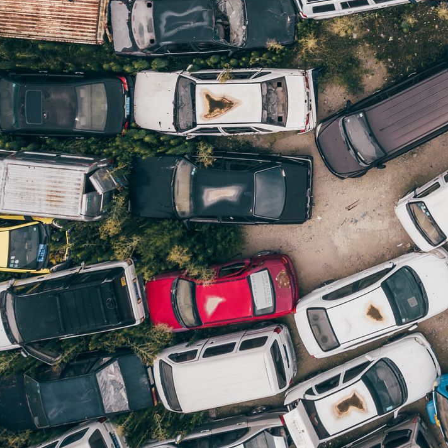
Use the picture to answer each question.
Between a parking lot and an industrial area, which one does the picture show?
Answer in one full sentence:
What you see here is a parking lot.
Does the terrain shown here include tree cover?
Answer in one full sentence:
No, no tree cover is visible.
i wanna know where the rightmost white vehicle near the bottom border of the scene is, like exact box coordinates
[271,332,443,448]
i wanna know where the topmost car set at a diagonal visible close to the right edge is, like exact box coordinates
[317,55,448,174]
